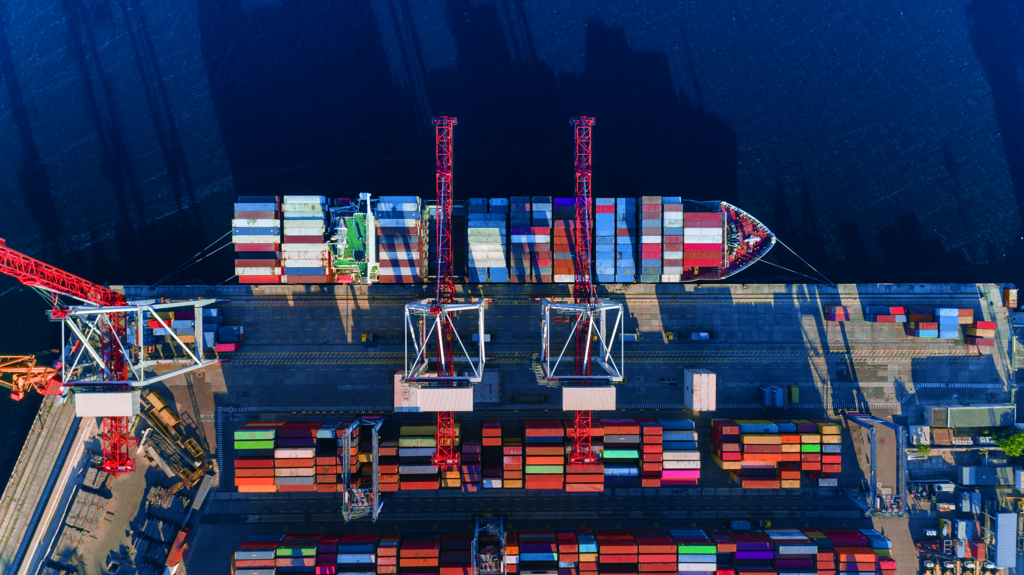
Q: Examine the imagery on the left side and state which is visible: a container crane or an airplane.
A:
container crane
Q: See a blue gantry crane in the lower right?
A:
Yes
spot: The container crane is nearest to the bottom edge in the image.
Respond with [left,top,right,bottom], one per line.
[468,514,510,575]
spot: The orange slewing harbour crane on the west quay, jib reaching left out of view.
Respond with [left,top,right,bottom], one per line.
[0,348,102,403]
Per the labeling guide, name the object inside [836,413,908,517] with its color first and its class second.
blue container crane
